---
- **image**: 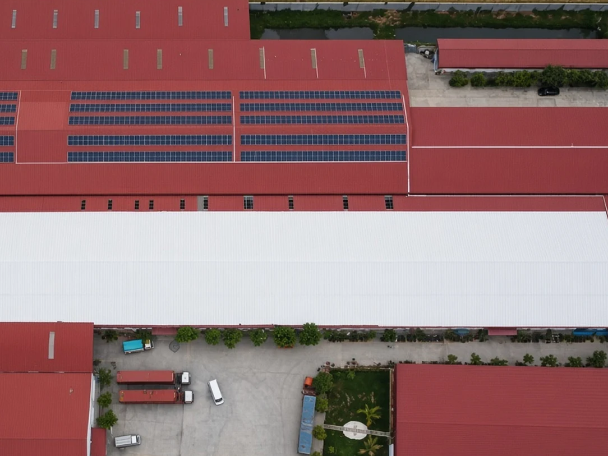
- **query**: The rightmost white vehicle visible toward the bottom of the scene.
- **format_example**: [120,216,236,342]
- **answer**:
[207,379,223,407]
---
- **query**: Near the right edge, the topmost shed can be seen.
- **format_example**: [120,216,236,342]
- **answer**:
[432,39,608,74]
